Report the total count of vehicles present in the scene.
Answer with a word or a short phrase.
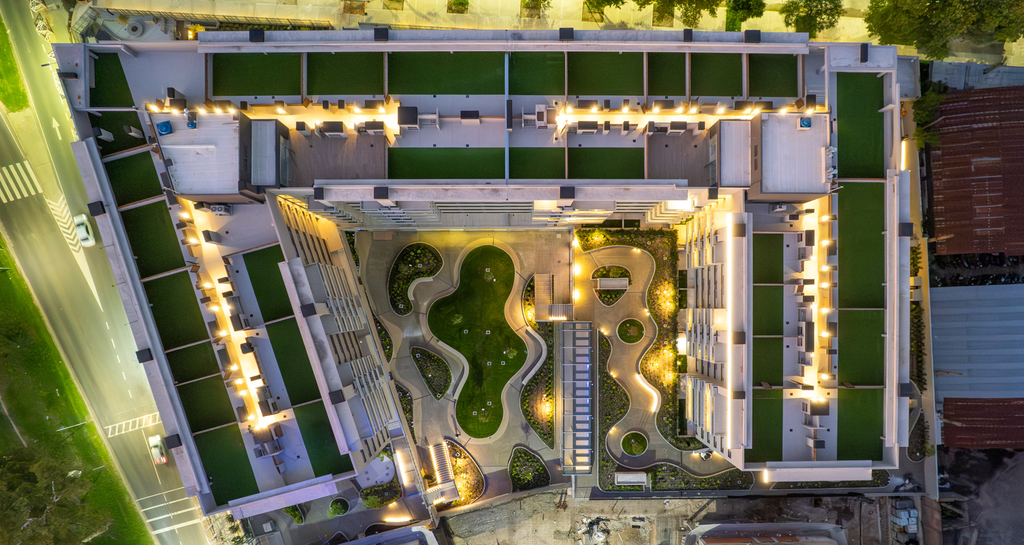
2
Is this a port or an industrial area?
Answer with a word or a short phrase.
industrial area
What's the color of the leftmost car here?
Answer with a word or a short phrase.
white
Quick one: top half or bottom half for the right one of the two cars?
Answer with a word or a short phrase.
bottom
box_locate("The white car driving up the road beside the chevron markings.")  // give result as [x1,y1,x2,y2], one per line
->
[76,214,98,247]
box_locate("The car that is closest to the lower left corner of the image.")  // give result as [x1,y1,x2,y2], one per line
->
[149,433,170,466]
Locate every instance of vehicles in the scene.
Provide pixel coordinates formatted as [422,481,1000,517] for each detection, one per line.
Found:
[76,214,98,247]
[149,433,170,466]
